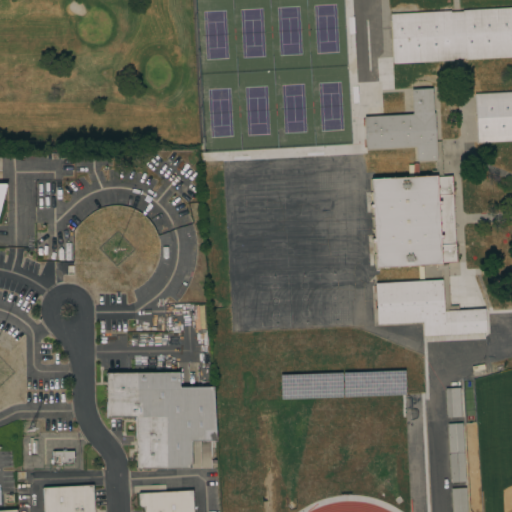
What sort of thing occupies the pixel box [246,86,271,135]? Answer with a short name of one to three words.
tennis court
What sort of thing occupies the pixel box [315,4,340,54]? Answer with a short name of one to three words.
tennis court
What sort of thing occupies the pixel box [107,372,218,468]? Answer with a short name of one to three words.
building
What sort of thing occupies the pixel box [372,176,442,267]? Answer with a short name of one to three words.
building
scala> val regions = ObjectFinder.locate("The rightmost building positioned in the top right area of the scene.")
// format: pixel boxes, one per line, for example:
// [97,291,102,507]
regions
[476,92,512,142]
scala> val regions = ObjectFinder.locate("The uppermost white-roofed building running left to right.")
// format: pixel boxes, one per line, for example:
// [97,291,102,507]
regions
[392,8,512,63]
